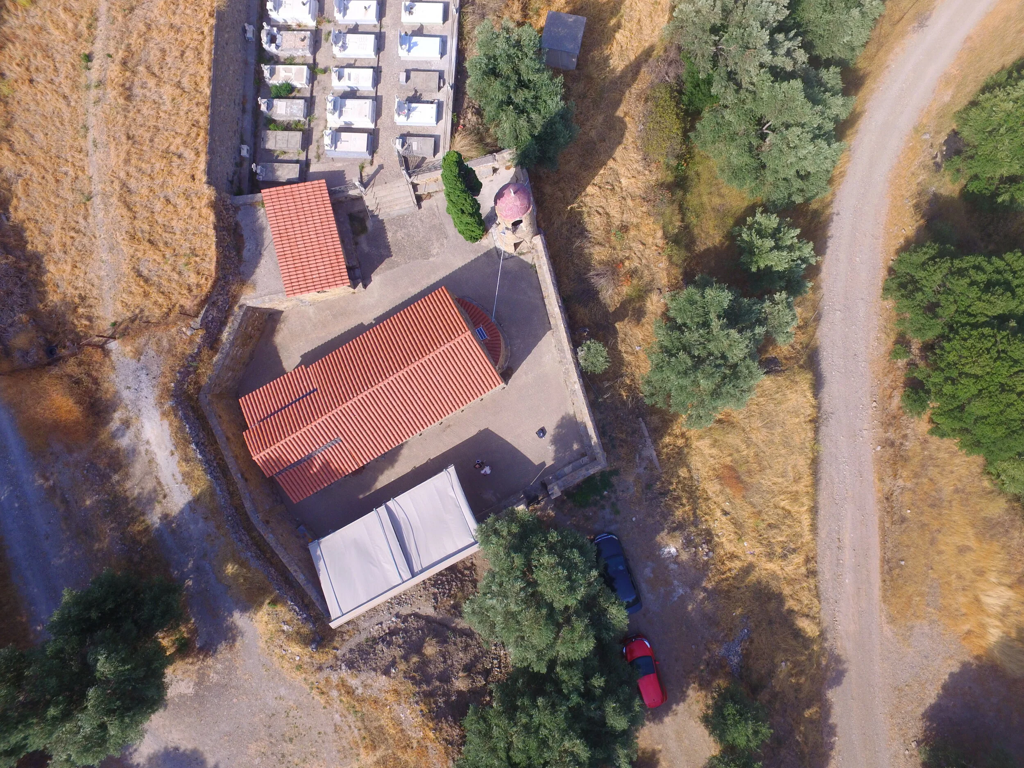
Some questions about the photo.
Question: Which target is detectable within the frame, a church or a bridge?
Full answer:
This aerial view contains a church.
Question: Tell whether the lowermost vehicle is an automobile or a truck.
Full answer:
The lowermost vehicle can be classified as an automobile.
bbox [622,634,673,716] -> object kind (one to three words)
car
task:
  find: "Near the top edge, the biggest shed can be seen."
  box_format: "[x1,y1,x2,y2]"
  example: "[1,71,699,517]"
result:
[541,11,586,75]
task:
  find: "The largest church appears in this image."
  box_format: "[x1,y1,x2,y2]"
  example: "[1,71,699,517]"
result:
[237,283,504,506]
